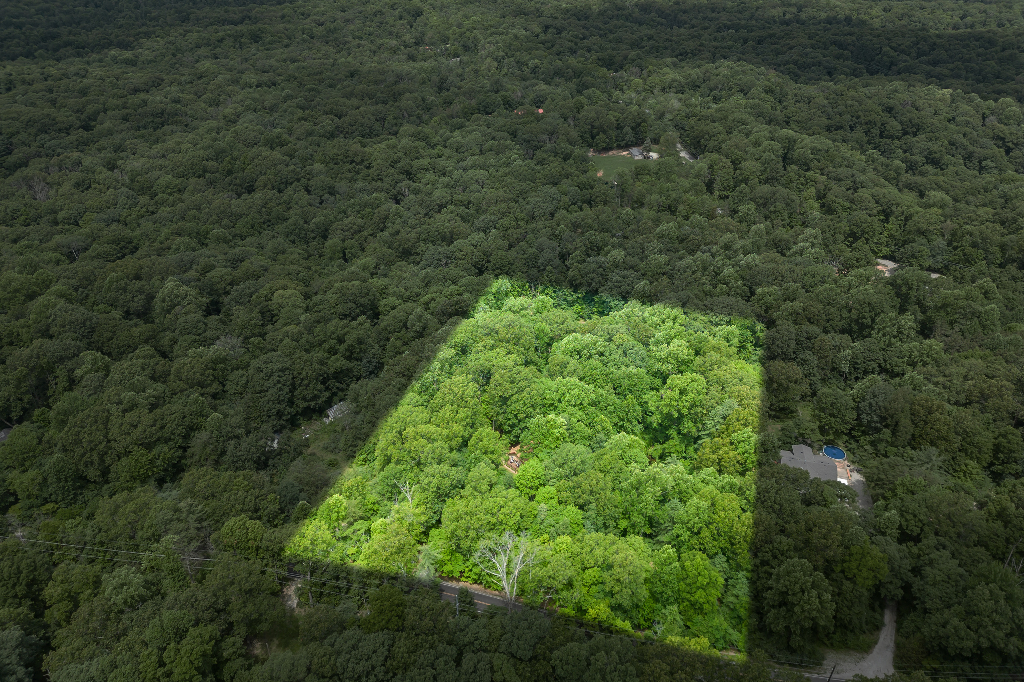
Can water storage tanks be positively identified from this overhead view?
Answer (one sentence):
No, no water storage tank can be seen from above.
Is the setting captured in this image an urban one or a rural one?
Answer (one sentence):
This place is rural.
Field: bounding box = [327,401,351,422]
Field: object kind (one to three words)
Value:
shed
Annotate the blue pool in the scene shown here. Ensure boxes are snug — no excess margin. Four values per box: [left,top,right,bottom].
[821,445,847,461]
